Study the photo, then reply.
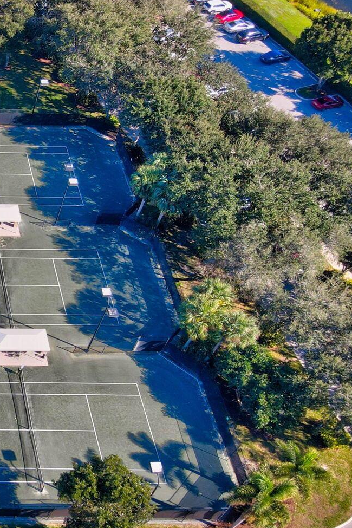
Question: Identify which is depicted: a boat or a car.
car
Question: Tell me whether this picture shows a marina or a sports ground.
sports ground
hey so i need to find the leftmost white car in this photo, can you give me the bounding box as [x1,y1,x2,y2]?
[201,0,232,14]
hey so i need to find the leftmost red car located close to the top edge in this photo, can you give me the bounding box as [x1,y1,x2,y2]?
[213,10,246,24]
